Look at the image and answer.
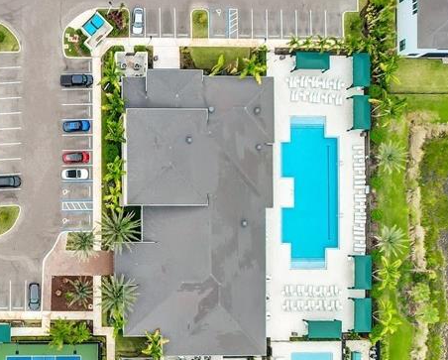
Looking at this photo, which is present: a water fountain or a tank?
water fountain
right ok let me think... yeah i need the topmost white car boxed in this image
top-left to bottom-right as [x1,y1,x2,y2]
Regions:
[131,7,144,35]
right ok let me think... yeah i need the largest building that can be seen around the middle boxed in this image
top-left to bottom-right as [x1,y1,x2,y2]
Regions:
[113,68,274,356]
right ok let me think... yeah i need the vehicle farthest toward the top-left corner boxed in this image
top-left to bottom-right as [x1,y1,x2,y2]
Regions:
[60,73,94,86]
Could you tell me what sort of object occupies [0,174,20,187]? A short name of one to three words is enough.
vehicle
